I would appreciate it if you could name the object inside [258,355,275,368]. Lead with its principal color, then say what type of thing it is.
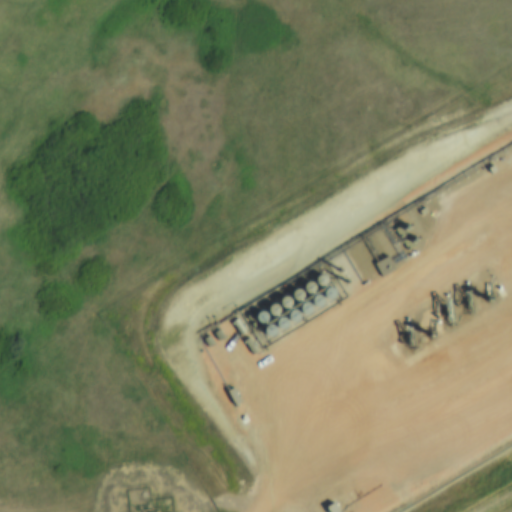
white vehicle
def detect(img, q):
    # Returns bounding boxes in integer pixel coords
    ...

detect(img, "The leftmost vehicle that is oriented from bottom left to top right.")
[226,336,240,352]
